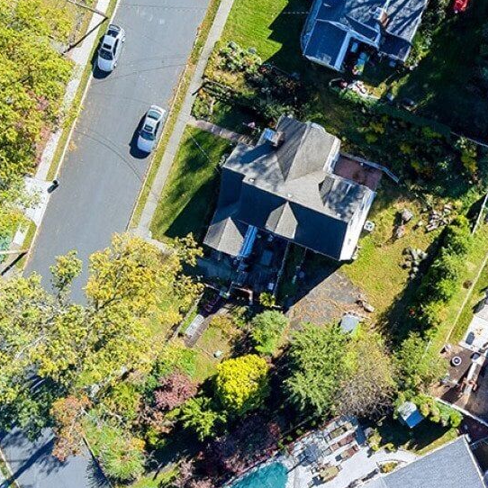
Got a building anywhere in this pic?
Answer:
Yes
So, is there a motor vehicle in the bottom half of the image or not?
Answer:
No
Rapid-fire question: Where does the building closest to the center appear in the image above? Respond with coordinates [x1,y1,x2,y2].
[203,116,382,263]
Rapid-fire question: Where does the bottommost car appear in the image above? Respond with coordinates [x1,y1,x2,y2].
[136,103,167,154]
